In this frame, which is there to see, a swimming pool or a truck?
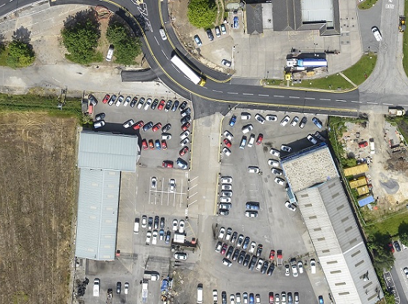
truck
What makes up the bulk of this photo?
paved ground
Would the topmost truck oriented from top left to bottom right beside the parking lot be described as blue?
No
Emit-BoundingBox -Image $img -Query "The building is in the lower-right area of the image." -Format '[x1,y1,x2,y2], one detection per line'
[279,140,387,304]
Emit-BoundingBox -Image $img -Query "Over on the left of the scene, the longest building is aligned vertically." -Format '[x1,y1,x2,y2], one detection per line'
[76,128,139,260]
